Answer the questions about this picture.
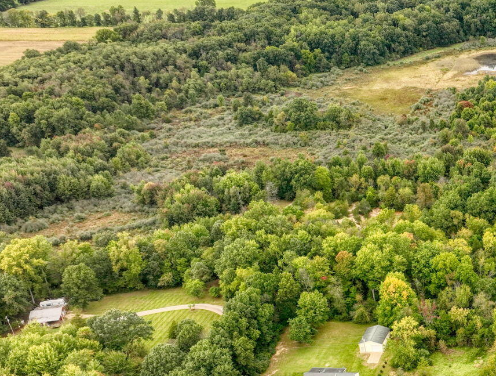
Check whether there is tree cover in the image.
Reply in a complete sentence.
Yes, tree cover can be seen from above here.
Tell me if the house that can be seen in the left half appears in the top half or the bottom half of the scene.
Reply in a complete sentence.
Seen from above, the house that can be seen in the left half lies in the bottom half of the view.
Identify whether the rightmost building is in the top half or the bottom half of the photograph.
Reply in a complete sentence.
The rightmost building sits in the bottom half of the picture.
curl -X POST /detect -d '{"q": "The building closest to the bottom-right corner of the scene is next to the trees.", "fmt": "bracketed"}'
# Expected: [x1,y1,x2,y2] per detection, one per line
[358,321,387,354]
